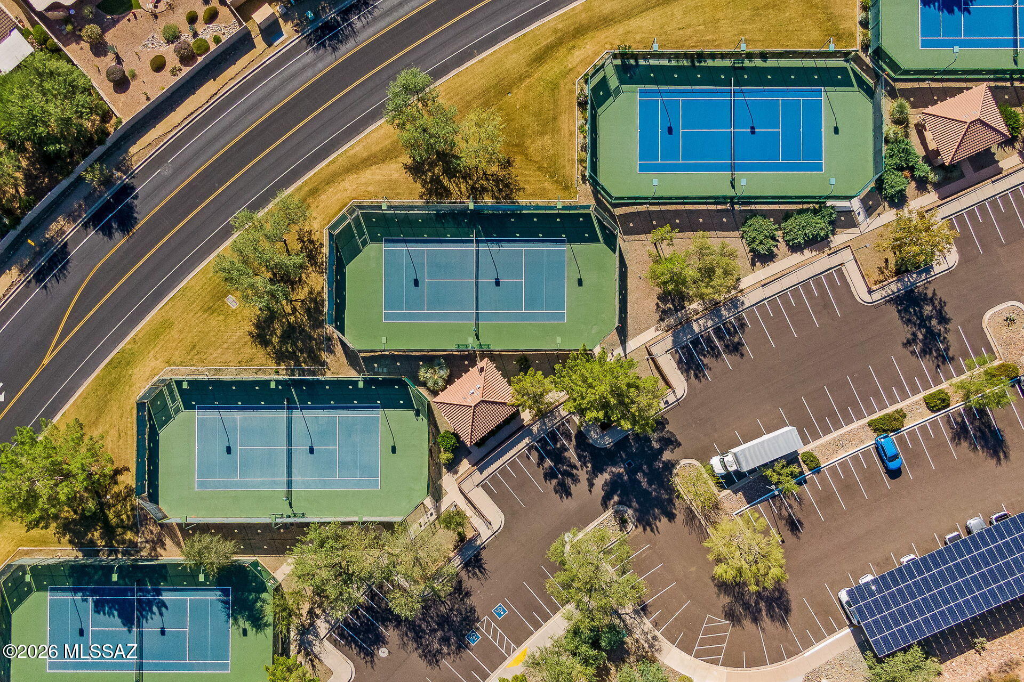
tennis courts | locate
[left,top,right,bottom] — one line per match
[147,376,432,518]
[869,0,1024,78]
[335,210,615,350]
[0,558,281,682]
[587,58,873,202]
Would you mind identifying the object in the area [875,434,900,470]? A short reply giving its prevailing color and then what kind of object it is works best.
blue car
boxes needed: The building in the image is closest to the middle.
[433,359,520,446]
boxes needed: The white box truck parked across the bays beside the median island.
[707,426,809,476]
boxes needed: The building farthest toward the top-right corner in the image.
[915,82,1012,165]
